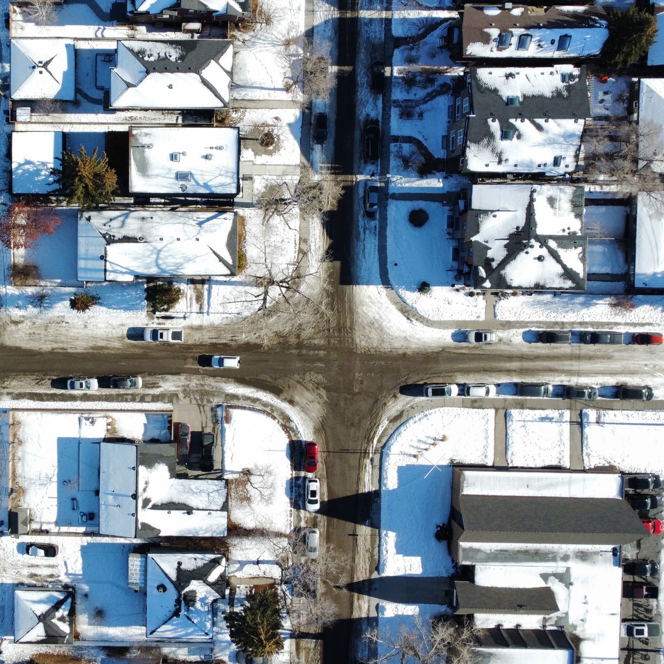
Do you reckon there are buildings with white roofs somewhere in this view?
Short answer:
Yes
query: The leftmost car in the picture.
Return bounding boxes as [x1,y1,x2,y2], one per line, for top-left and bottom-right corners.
[28,541,59,558]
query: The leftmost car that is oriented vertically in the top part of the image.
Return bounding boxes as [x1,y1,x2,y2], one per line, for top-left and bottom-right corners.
[314,113,329,144]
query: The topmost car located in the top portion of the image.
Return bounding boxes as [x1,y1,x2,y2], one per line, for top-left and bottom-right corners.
[369,60,386,95]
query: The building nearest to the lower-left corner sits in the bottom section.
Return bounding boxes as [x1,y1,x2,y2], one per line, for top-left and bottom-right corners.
[14,585,74,643]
